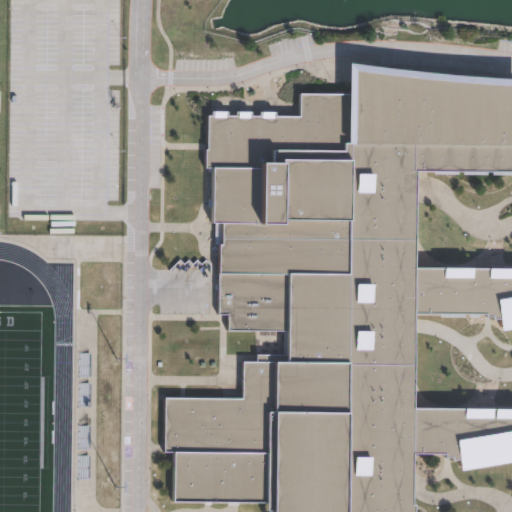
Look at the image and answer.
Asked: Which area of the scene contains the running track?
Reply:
bottom left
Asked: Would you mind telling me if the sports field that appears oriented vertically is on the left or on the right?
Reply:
left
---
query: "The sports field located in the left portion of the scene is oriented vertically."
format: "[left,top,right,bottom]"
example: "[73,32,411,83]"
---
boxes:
[0,306,54,512]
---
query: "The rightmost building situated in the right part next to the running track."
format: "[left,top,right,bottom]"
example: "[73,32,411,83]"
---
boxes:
[164,64,512,512]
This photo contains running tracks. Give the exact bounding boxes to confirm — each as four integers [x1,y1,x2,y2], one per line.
[0,244,74,512]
